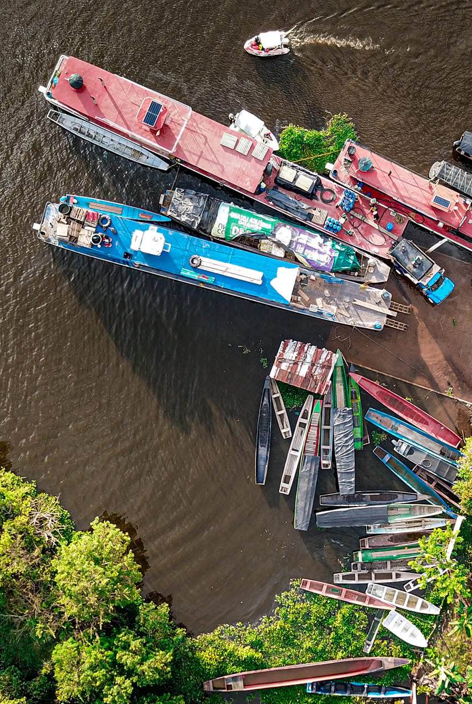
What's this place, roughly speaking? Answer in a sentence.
The picture captures a port.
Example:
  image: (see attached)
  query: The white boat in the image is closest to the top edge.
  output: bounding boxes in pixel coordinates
[244,10,305,58]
